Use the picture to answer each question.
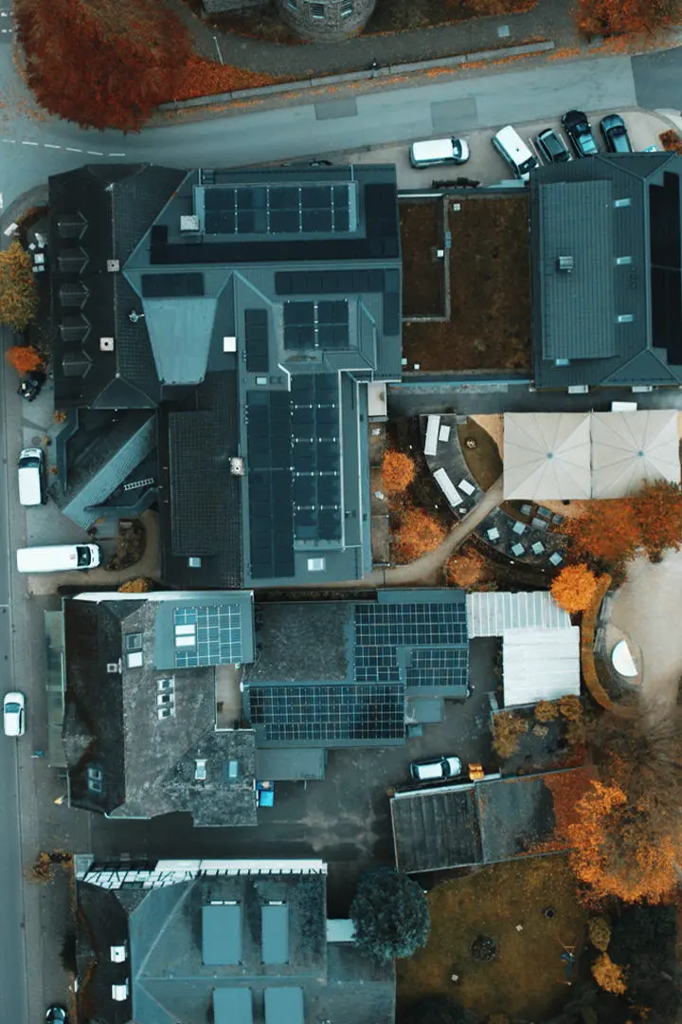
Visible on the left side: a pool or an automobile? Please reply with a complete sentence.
The one visible on the left side is an automobile.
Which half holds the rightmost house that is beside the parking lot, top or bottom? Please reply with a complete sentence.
The rightmost house that is beside the parking lot sits in the top half of the picture.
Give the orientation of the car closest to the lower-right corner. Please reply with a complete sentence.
I'd say the car closest to the lower-right corner is aligned from side to side in the picture.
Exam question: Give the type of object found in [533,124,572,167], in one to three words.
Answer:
car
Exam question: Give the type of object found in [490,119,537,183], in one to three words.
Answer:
van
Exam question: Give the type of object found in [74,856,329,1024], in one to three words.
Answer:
house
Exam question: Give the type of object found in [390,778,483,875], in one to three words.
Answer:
building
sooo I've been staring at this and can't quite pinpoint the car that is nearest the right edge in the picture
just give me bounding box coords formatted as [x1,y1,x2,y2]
[599,109,631,155]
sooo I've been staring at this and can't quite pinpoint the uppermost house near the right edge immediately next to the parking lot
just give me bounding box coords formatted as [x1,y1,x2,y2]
[528,154,682,393]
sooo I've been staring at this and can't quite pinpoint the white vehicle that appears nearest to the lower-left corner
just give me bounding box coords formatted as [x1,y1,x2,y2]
[0,691,27,738]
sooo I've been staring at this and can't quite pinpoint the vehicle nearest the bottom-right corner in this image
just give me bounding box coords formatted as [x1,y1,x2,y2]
[409,754,462,782]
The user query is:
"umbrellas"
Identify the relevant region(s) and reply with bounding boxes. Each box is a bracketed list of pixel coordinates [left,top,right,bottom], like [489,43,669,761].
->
[503,412,591,499]
[35,234,45,249]
[592,410,681,498]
